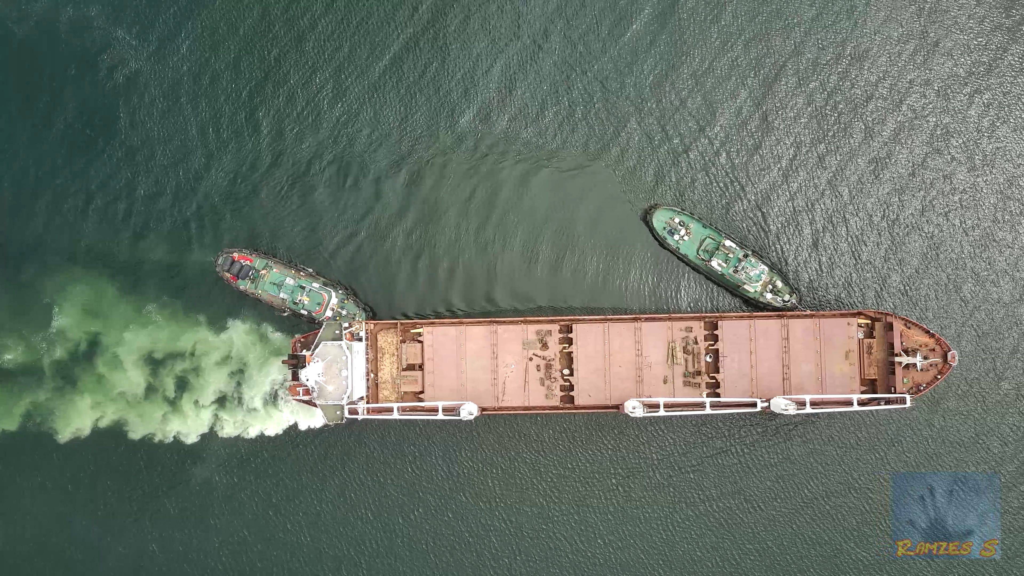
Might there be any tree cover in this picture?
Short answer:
No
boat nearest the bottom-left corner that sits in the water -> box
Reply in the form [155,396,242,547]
[287,384,305,397]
